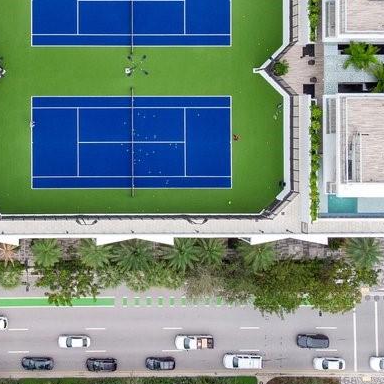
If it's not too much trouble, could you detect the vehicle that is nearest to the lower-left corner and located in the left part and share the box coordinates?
[21,355,54,372]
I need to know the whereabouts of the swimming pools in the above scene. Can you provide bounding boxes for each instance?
[317,193,384,217]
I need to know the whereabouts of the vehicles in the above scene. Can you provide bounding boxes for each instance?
[174,333,216,351]
[0,314,8,330]
[57,333,90,349]
[21,355,54,372]
[311,355,345,371]
[368,355,384,371]
[145,355,177,371]
[86,356,118,373]
[221,352,266,372]
[295,332,331,349]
